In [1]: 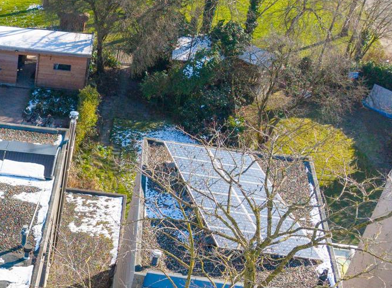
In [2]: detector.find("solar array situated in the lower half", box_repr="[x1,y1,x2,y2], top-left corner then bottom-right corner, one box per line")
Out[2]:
[160,142,317,258]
